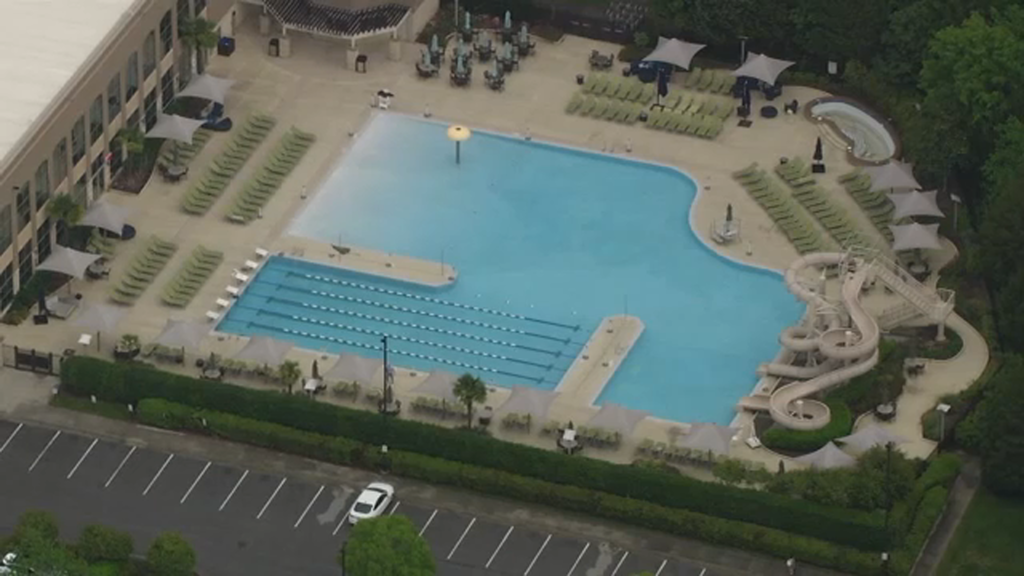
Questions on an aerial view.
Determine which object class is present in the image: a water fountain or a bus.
water fountain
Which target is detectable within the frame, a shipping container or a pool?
pool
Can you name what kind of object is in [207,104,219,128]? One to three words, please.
umbrella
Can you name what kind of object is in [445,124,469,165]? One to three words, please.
fountain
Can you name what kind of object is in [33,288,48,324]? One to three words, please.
umbrella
